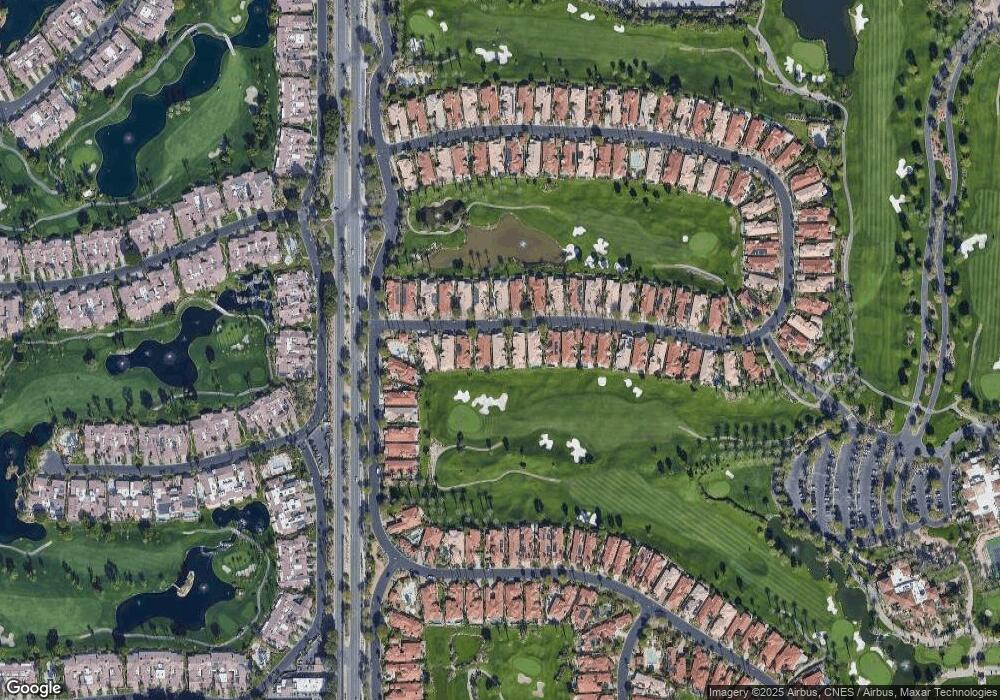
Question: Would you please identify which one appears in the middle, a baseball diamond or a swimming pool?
swimming pool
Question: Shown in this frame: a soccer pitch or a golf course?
golf course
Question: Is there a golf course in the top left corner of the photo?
Yes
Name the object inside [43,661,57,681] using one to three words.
swimming pool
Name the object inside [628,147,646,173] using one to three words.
swimming pool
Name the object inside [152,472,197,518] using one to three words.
building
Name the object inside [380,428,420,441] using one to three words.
house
